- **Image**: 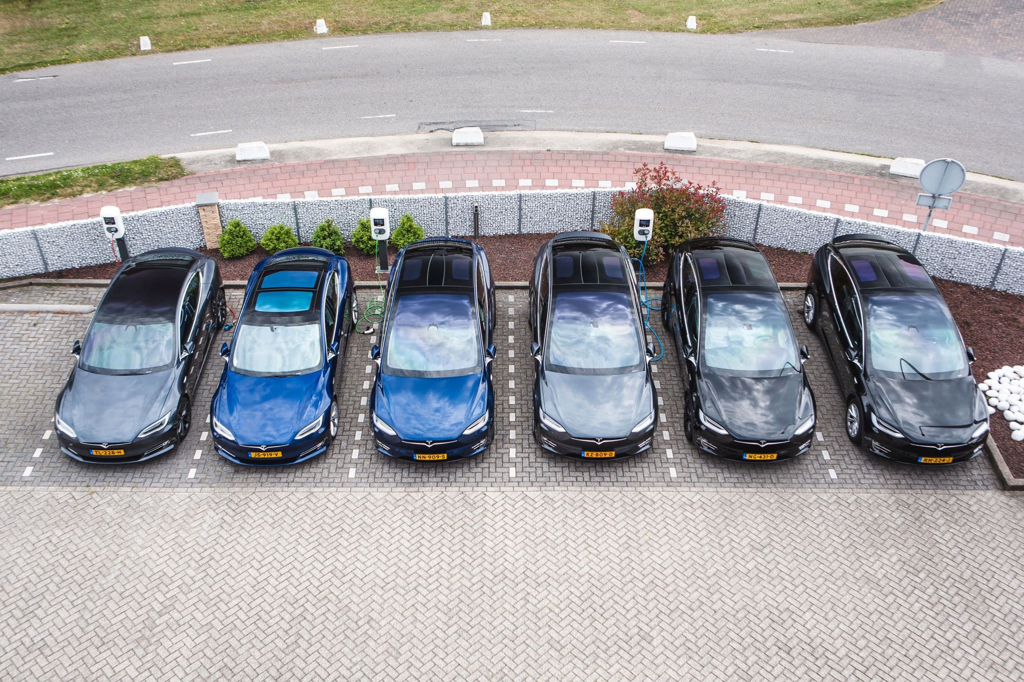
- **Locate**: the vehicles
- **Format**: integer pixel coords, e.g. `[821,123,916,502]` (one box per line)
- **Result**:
[56,245,227,467]
[368,235,499,465]
[213,246,358,468]
[529,227,659,462]
[664,236,814,464]
[806,232,983,466]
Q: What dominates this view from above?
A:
paved ground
